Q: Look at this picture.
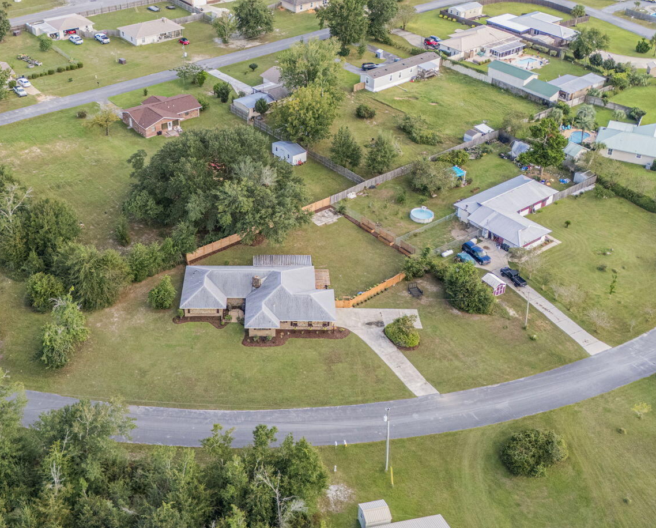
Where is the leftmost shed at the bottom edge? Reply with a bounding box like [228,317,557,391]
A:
[355,497,392,528]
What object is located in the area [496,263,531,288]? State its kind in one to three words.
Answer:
truck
